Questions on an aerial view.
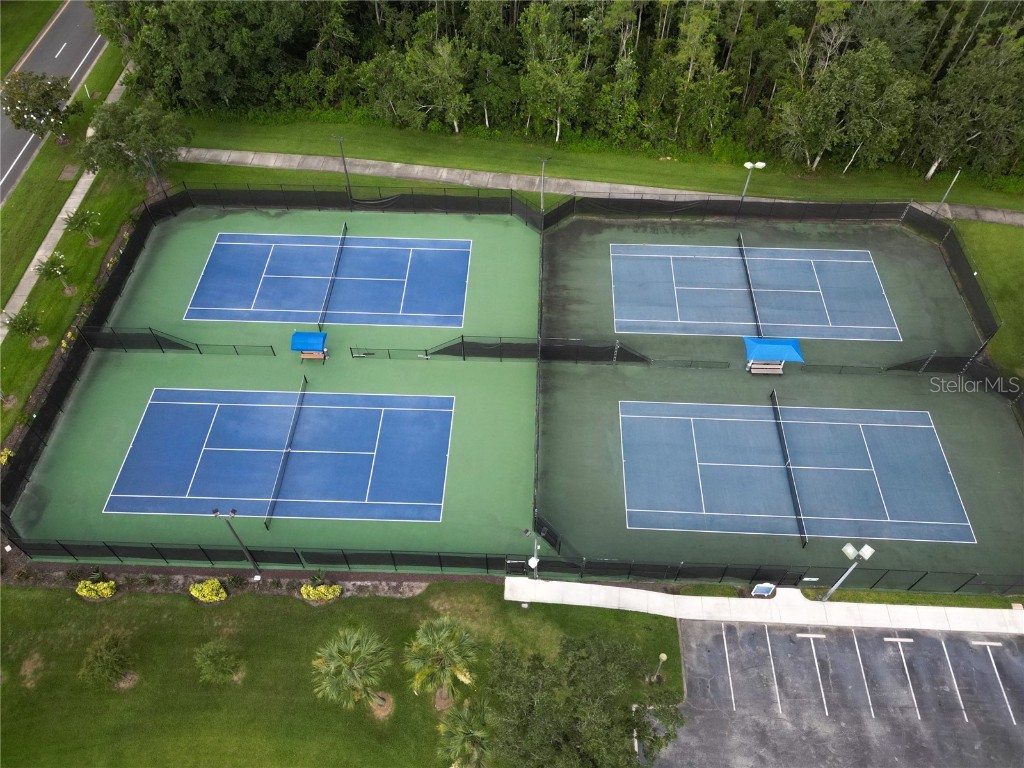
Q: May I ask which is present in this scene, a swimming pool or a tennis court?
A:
tennis court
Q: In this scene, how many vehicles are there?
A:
0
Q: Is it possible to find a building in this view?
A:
No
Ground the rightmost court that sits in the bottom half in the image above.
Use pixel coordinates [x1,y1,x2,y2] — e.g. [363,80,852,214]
[536,362,1024,599]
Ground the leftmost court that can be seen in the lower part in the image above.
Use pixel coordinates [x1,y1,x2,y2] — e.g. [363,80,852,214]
[8,349,578,583]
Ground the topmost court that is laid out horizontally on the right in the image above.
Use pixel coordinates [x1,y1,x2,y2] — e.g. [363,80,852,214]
[540,215,987,374]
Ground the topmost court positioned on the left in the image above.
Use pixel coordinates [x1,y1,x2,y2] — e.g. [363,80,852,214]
[94,206,541,362]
